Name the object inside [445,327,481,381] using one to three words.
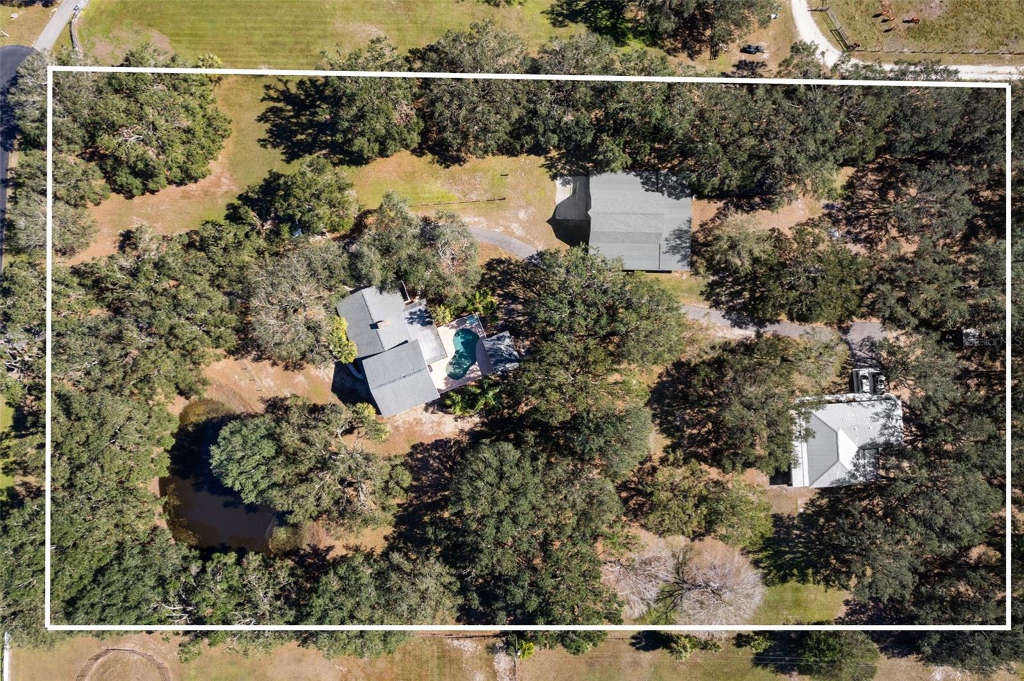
swimming pool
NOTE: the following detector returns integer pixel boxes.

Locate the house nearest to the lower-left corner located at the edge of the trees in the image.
[337,281,447,419]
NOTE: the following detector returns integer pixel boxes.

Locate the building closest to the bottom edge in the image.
[789,400,896,487]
